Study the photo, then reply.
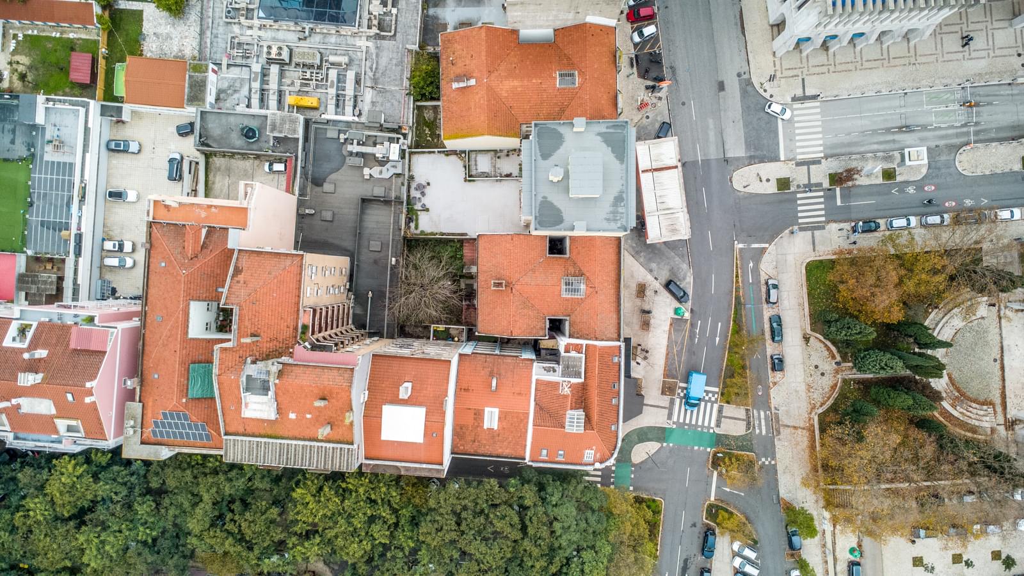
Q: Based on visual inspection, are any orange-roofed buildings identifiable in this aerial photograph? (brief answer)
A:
Yes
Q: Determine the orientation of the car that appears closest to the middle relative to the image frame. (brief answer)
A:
at an angle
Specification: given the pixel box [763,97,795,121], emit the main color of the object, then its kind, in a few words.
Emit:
white car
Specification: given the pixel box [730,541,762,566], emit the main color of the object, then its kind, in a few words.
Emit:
white car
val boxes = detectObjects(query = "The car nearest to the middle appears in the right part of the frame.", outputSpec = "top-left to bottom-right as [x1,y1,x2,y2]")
[665,276,691,306]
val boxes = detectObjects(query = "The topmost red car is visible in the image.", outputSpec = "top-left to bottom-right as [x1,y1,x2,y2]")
[627,4,658,21]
